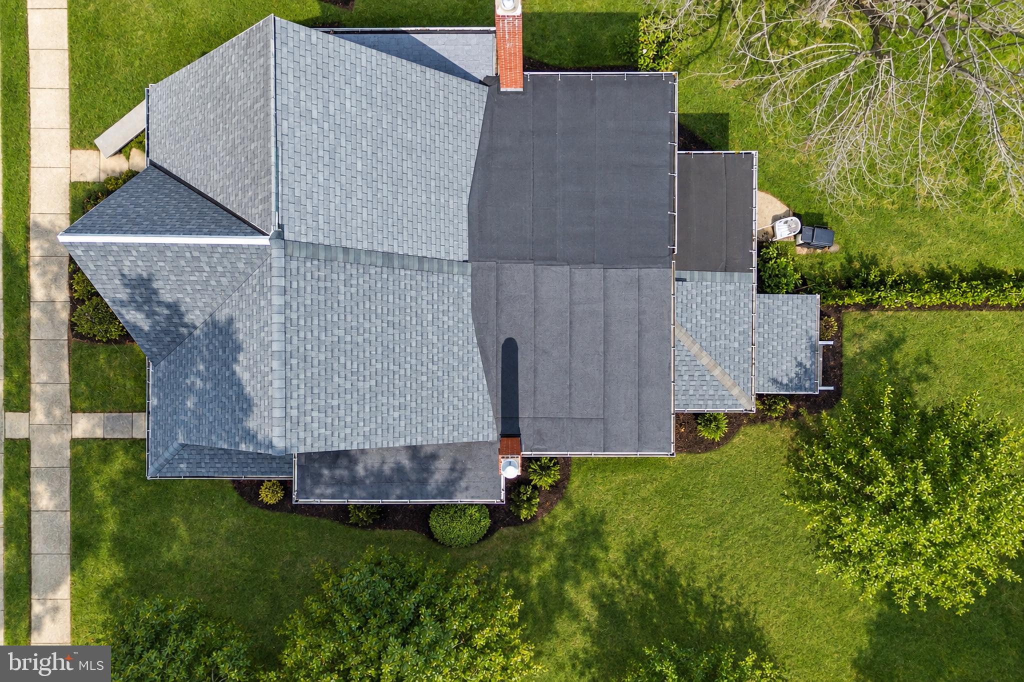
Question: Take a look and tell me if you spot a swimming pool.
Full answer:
No, I can't see a single swimming pool in this photo.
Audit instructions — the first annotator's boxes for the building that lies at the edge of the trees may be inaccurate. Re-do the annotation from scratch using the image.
[56,0,818,507]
